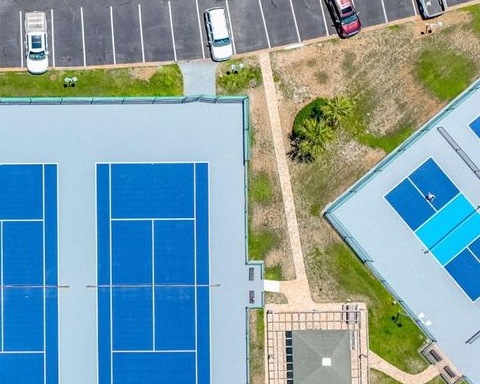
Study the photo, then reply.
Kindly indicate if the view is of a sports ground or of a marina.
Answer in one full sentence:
The picture captures a sports ground.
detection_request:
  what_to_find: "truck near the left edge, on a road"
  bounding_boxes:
[24,11,50,75]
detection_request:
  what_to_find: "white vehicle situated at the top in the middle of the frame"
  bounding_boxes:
[203,8,233,62]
